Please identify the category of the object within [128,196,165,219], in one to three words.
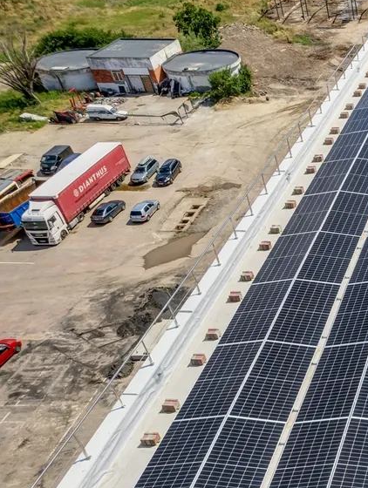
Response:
car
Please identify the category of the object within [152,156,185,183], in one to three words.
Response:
car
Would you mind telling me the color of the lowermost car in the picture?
red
